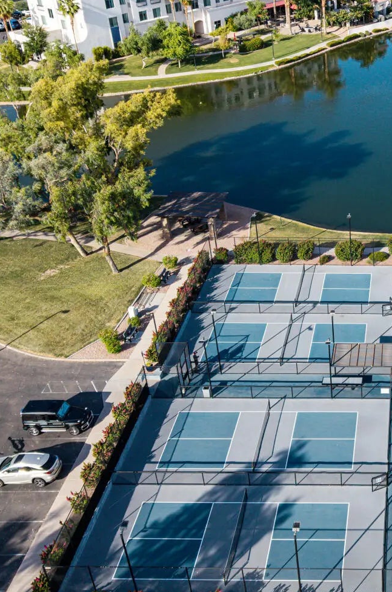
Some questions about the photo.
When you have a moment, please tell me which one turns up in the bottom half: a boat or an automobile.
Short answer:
automobile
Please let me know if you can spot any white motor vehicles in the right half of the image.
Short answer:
No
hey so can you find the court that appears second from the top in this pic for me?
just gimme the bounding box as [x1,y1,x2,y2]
[201,322,367,362]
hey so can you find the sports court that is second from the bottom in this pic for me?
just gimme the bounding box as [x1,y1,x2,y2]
[158,411,358,469]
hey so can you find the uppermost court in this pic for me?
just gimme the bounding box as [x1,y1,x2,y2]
[225,273,372,305]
